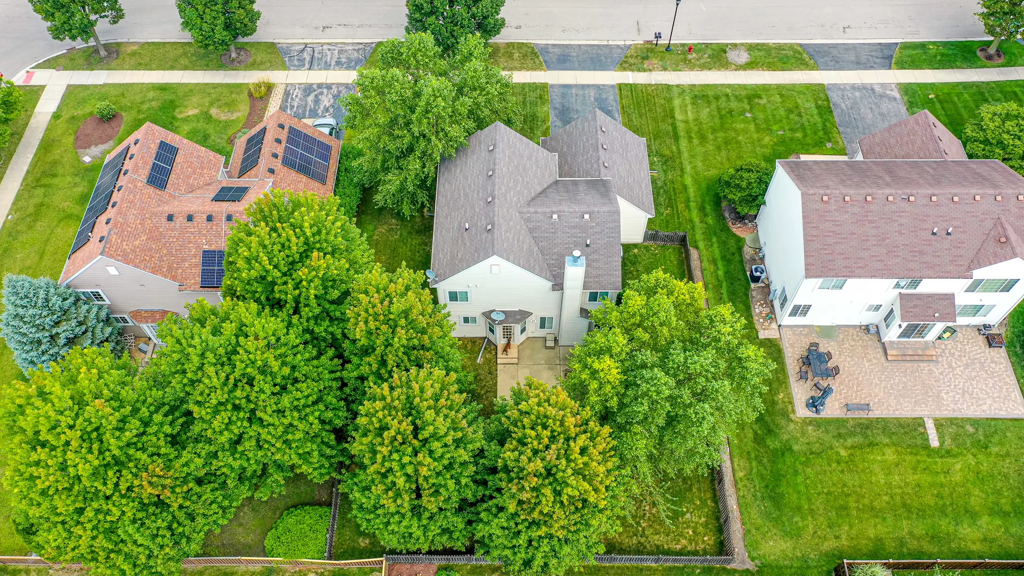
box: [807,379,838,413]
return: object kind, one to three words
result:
umbrella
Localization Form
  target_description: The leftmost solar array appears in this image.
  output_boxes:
[63,137,131,268]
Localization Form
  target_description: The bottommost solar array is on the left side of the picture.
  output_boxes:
[202,251,233,286]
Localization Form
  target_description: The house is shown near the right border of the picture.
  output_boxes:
[757,110,1024,360]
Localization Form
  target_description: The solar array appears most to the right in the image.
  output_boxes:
[286,124,335,181]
